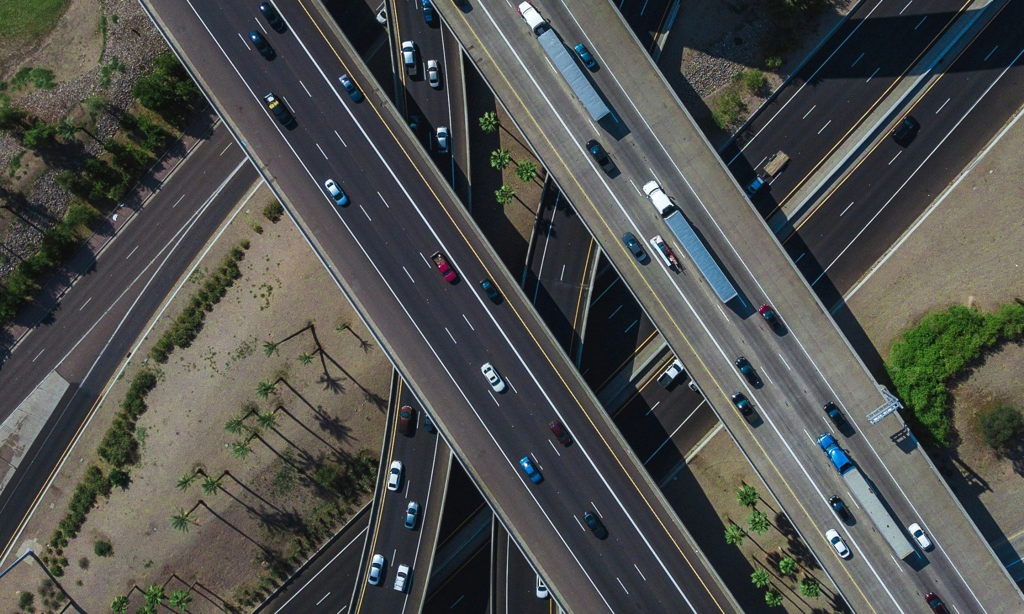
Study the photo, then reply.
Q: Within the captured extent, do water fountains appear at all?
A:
No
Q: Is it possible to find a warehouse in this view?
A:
No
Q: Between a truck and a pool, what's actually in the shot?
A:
truck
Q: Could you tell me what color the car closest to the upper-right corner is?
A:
black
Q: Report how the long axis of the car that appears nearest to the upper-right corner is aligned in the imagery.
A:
diagonally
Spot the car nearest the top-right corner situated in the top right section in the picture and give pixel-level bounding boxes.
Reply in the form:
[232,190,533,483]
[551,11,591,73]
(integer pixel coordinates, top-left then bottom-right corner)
[892,118,917,143]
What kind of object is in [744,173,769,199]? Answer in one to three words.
truck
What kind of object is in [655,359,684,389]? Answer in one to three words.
truck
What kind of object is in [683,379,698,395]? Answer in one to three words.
car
